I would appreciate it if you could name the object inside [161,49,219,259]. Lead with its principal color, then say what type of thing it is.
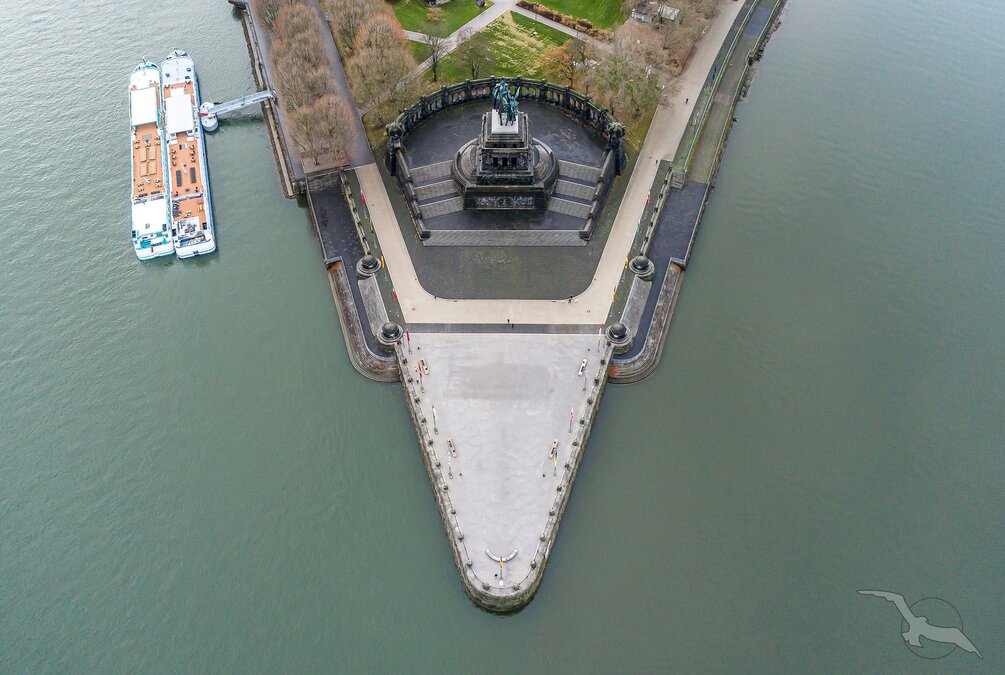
white ship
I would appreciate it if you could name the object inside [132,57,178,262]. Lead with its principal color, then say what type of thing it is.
white ship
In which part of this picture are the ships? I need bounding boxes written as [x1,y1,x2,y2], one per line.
[161,49,219,259]
[132,57,178,262]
